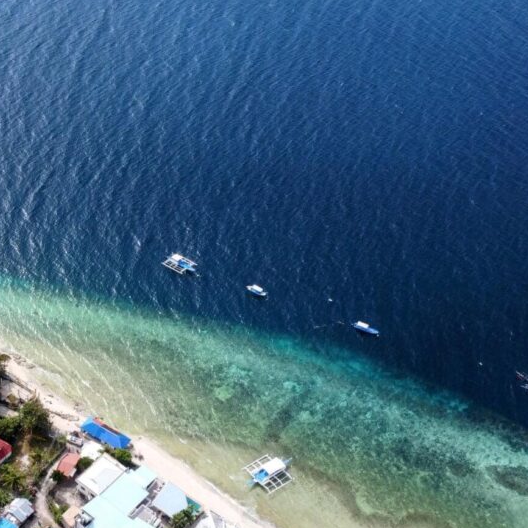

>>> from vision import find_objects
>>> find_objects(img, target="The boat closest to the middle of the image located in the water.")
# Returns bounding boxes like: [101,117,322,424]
[245,283,267,297]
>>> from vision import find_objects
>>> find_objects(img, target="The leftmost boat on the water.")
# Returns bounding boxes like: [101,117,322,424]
[164,256,198,278]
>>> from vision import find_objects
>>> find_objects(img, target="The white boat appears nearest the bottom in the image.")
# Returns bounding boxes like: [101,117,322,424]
[243,452,295,493]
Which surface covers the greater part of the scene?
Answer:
water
